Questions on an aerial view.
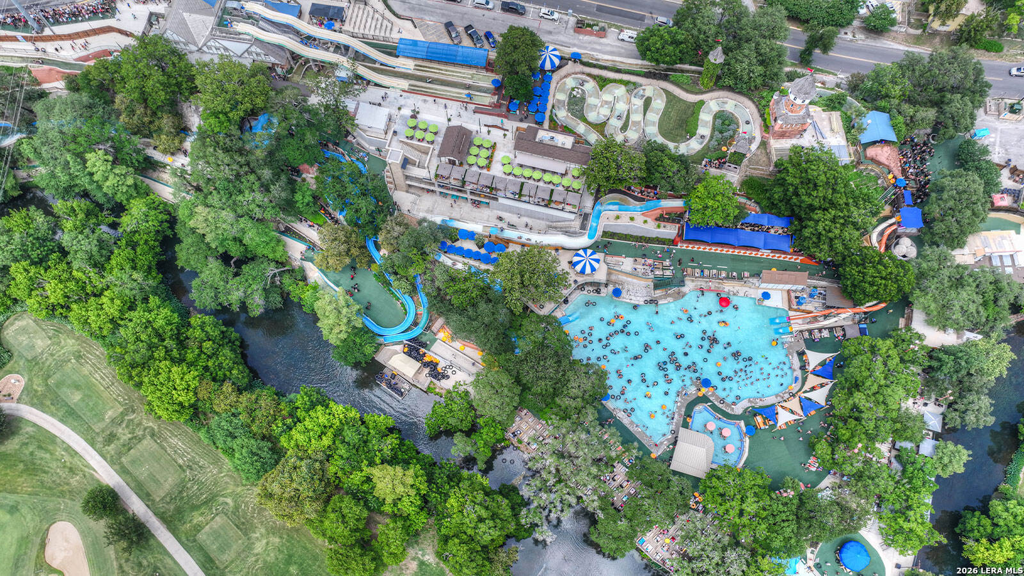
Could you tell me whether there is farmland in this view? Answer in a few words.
No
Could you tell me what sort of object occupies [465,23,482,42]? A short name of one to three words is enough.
vehicle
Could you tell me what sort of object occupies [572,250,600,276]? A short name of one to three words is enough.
umbrella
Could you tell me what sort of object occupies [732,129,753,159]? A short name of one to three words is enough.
shed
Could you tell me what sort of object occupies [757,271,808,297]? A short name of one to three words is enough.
building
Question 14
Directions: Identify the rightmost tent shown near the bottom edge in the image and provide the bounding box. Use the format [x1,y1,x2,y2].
[836,538,872,574]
